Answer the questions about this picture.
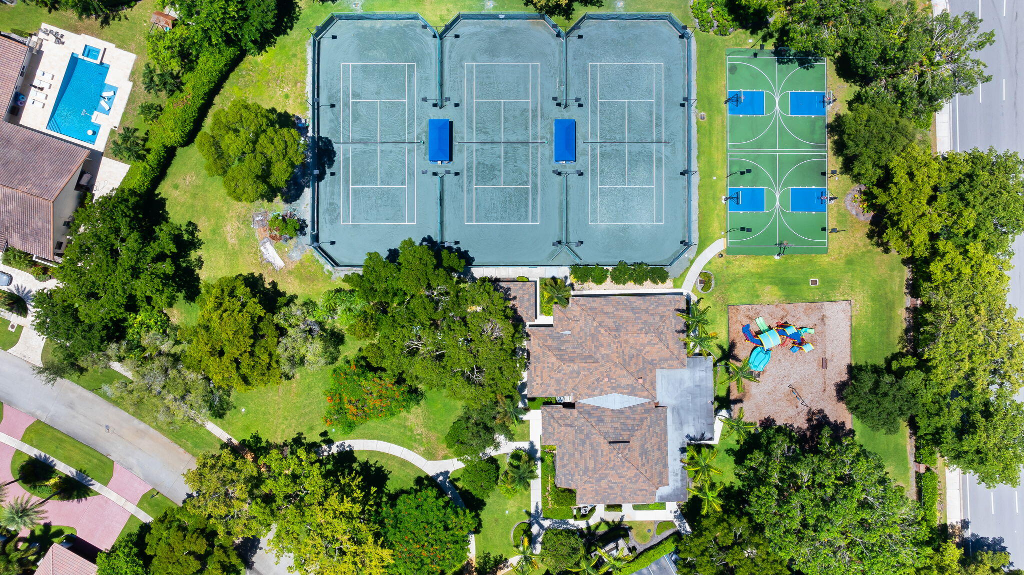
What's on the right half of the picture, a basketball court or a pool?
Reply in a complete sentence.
You can see a basketball court on the right half of the picture.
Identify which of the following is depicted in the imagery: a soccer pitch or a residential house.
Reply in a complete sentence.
Of the two, only a residential house appears.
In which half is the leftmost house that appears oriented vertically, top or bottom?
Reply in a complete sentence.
The leftmost house that appears oriented vertically is in the top half of the image.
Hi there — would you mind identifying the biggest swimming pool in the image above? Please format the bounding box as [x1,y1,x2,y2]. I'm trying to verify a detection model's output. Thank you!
[46,52,118,144]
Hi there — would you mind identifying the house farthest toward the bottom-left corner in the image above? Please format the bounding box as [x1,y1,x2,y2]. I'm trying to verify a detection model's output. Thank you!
[37,541,104,575]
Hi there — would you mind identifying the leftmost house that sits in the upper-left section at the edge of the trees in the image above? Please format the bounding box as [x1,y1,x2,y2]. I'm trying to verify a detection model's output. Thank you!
[0,35,95,269]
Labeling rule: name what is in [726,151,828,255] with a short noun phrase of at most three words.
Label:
basketball court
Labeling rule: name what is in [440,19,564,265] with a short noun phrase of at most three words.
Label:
tennis court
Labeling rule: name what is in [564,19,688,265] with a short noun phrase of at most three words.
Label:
tennis court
